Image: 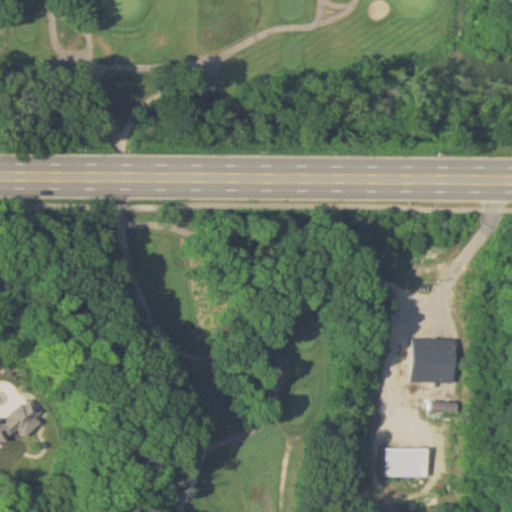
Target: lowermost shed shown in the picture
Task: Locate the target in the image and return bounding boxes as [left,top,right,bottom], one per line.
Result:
[383,448,430,478]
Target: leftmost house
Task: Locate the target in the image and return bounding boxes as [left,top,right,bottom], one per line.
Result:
[0,402,42,450]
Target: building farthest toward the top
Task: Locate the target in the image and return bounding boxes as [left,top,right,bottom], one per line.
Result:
[409,339,458,384]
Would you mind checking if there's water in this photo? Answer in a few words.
No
